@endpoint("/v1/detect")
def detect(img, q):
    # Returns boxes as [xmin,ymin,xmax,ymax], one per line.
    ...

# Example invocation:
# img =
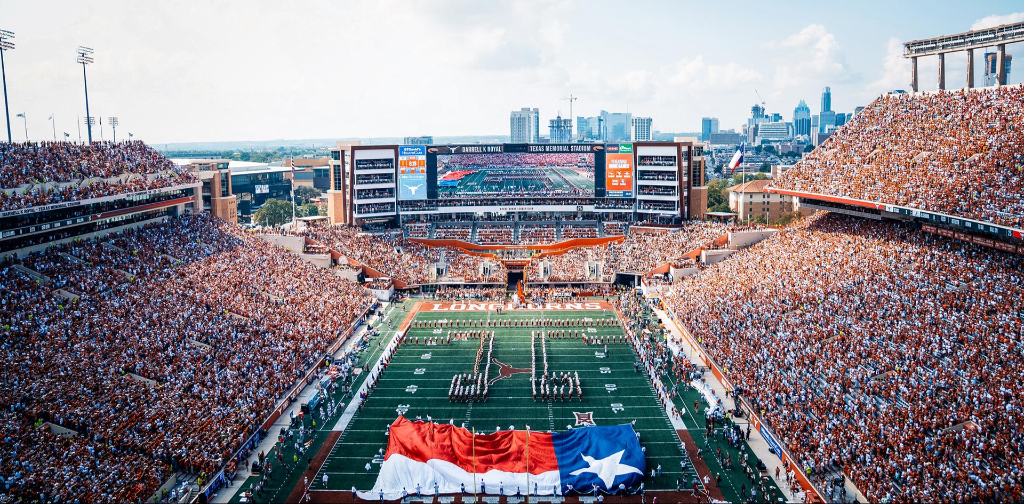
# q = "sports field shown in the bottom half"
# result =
[311,310,704,489]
